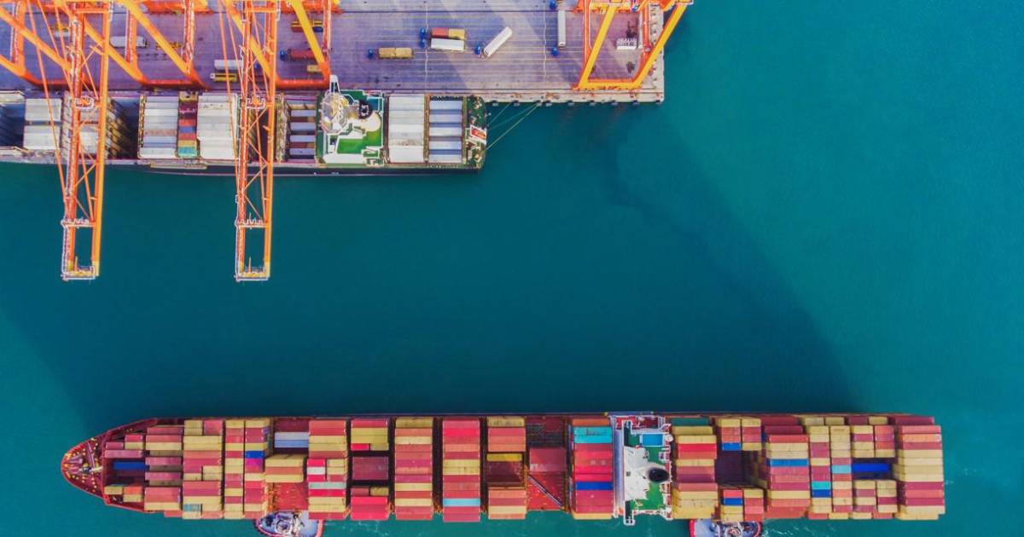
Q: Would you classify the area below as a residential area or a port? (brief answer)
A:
port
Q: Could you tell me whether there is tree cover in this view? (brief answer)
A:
No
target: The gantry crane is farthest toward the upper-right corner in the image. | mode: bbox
[569,0,689,90]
